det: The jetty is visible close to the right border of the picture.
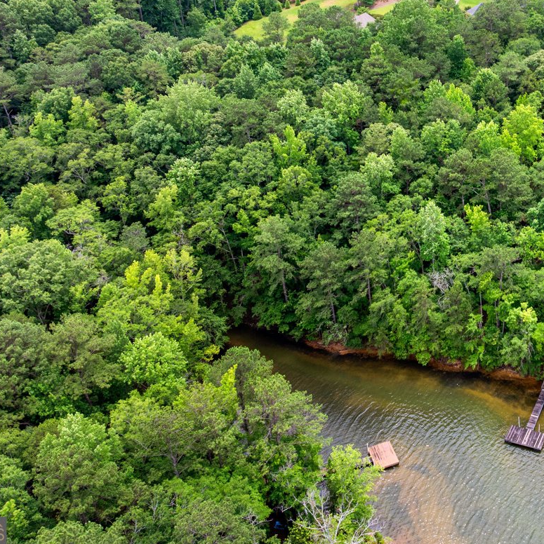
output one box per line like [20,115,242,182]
[507,397,544,452]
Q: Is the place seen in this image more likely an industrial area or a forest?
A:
forest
